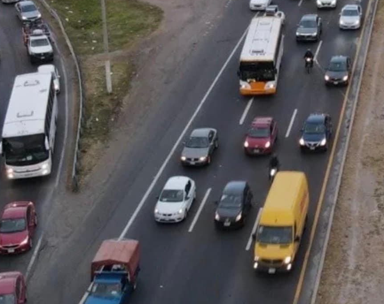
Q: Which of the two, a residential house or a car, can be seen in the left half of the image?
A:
car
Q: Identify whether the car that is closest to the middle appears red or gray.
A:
gray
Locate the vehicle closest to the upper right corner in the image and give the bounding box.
[338,5,364,28]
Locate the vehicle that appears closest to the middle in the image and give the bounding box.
[182,126,221,162]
